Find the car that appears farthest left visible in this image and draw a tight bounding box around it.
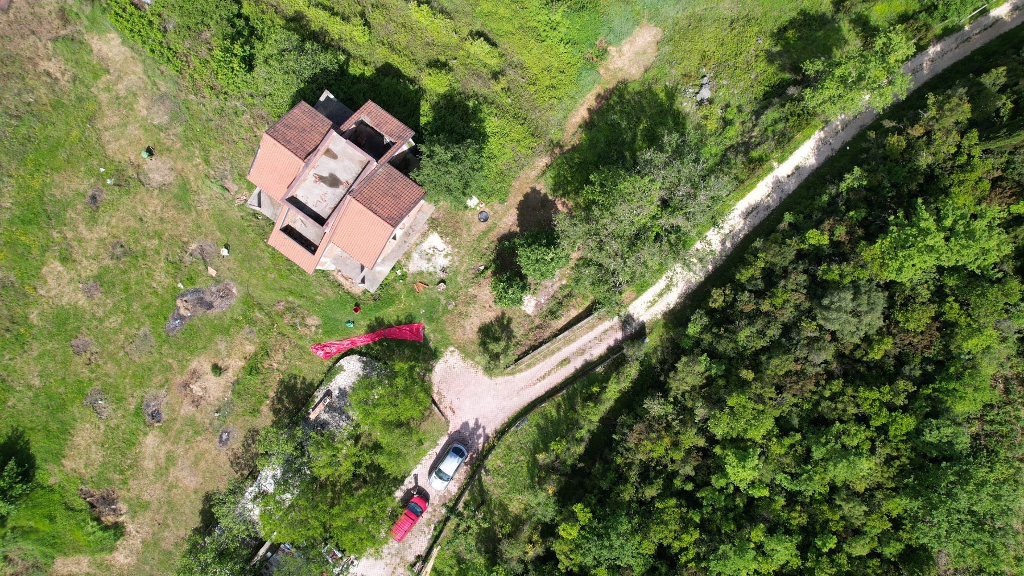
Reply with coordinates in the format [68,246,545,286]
[386,488,431,546]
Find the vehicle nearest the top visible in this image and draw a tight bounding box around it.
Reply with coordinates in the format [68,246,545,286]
[430,438,471,493]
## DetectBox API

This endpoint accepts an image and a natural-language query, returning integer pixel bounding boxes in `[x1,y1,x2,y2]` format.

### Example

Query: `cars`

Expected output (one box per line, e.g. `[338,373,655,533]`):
[386,488,431,546]
[430,438,471,493]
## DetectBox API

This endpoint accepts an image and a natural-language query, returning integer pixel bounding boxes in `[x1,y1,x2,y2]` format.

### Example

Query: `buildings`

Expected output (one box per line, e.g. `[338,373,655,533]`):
[233,90,442,294]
